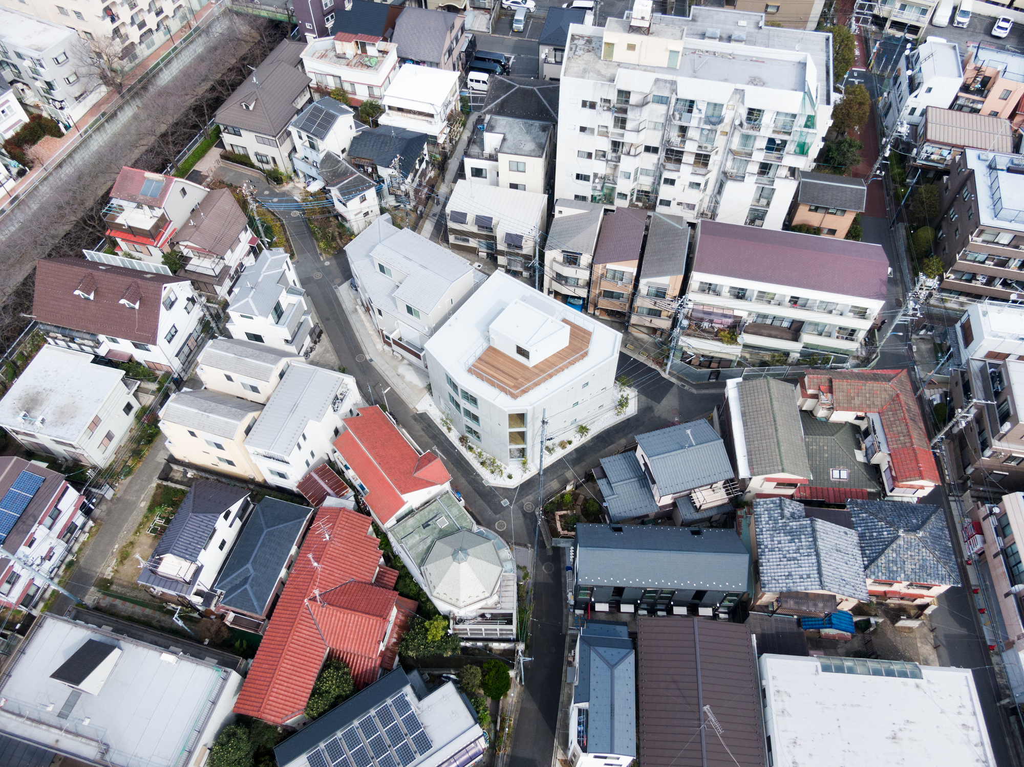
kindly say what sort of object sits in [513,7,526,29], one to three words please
vehicle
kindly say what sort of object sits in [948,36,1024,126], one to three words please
house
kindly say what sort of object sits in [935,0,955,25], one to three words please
vehicle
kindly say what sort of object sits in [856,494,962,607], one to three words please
house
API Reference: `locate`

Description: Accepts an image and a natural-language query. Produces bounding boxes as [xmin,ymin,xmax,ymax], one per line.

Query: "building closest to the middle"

[425,270,622,464]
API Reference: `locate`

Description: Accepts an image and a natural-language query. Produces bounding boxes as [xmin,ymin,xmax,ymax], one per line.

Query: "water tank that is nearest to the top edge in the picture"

[625,0,660,20]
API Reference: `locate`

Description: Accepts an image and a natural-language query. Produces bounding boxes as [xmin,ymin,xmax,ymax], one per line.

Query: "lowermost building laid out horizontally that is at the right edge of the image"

[755,654,997,767]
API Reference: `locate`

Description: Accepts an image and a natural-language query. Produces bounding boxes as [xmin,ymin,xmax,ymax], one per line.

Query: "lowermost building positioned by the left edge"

[0,609,245,767]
